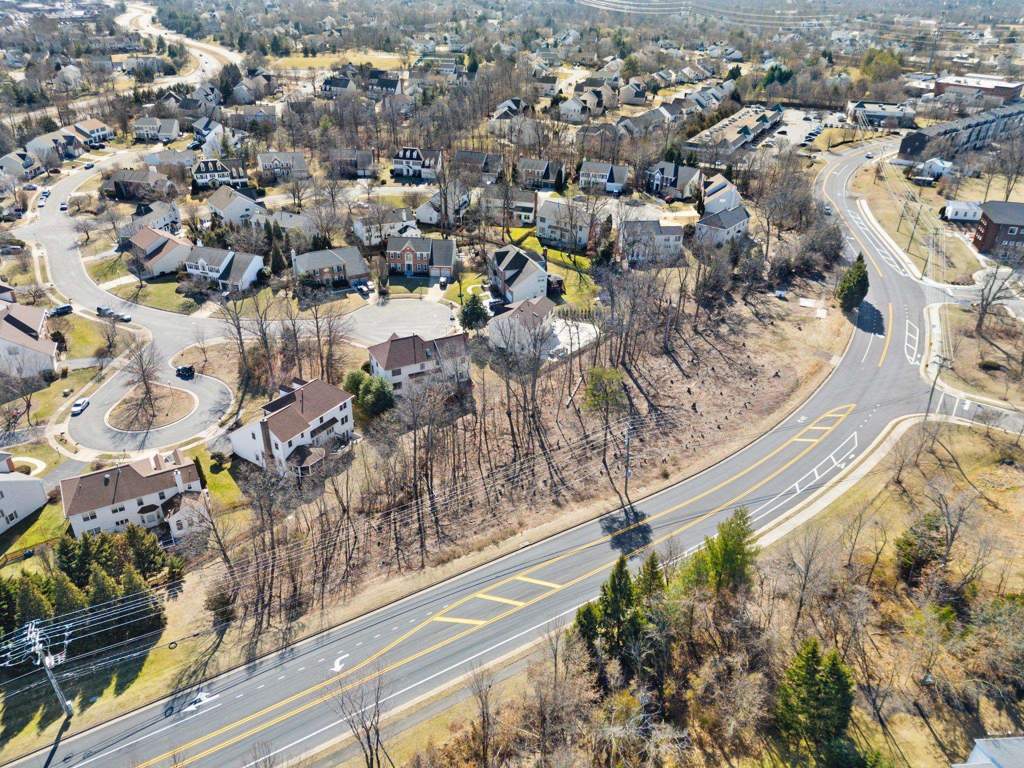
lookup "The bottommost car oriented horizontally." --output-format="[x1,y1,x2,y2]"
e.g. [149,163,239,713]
[170,364,199,377]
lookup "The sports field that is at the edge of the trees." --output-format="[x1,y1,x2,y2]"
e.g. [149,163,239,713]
[271,57,410,70]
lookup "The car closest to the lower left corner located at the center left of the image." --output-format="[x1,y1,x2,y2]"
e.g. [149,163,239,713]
[66,398,91,414]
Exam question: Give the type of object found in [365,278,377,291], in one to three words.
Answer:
vehicle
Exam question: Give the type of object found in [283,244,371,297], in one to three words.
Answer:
house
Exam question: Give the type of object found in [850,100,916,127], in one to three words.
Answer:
building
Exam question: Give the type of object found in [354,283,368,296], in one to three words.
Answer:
vehicle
